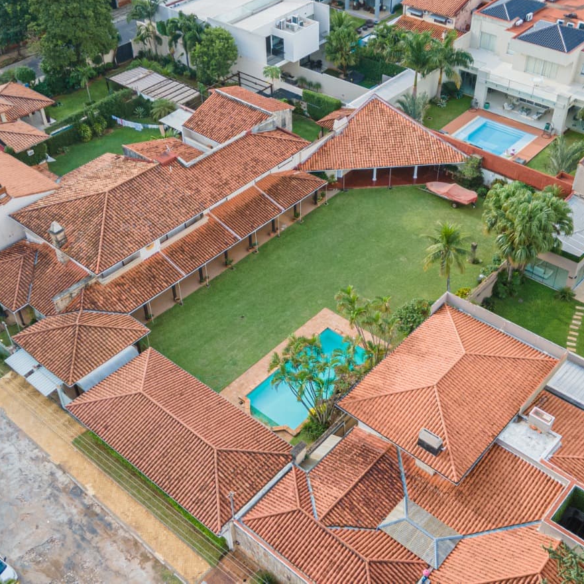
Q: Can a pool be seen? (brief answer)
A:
Yes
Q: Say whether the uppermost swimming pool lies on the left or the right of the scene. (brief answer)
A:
right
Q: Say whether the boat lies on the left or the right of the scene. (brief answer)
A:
right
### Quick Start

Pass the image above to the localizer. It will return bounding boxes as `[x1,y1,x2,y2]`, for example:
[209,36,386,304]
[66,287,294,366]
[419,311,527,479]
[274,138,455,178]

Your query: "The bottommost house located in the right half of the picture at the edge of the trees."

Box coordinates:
[240,301,584,584]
